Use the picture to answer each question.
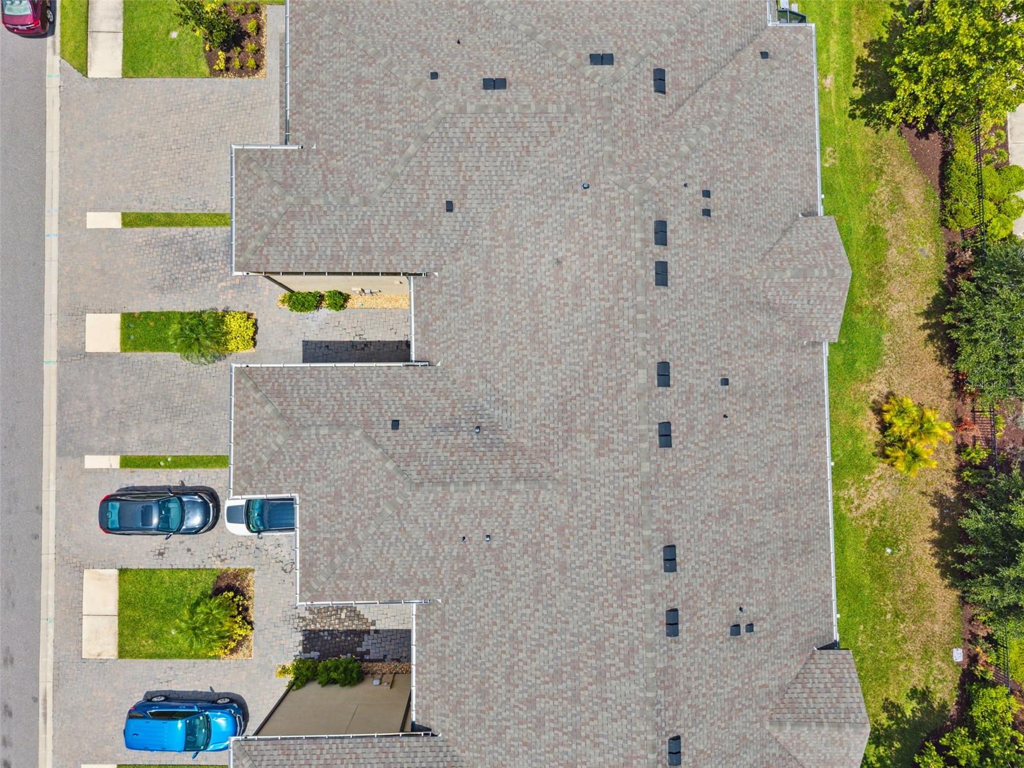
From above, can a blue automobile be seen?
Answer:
Yes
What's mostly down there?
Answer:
buildings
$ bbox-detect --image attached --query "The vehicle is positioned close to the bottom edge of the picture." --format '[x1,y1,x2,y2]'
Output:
[125,696,244,761]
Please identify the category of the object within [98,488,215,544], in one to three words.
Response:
car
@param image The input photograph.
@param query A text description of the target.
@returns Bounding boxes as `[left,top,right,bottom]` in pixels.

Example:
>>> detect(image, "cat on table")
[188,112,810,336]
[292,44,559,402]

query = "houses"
[230,0,870,768]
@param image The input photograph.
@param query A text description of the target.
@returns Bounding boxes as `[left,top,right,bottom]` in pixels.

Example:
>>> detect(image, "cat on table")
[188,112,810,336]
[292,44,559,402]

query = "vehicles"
[224,496,299,546]
[98,488,215,544]
[0,0,55,33]
[125,696,244,761]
